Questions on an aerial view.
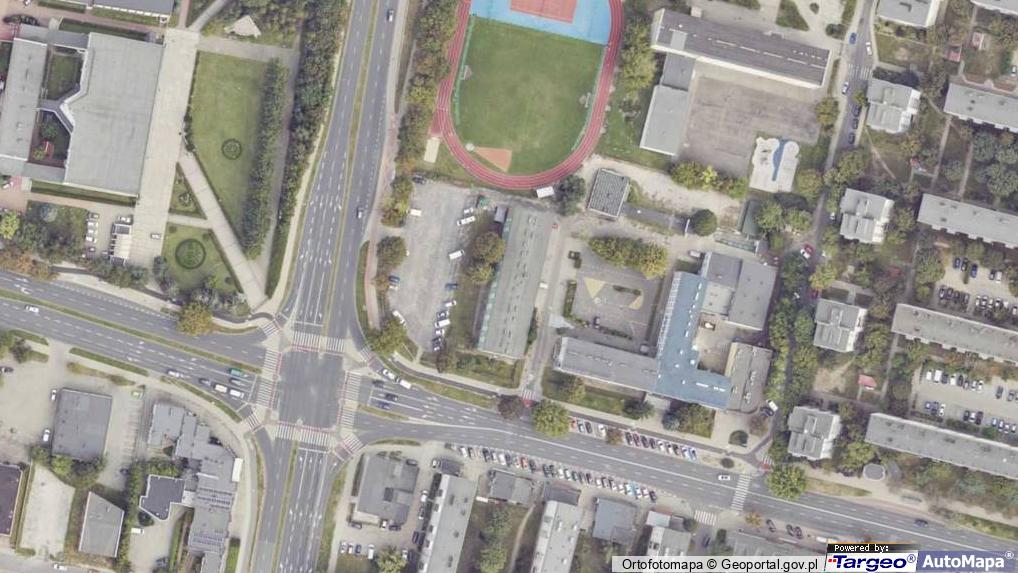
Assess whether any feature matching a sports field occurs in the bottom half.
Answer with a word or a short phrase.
No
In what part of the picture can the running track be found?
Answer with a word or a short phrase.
top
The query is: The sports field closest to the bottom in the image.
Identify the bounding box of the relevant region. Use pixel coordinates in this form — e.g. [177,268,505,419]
[451,13,607,180]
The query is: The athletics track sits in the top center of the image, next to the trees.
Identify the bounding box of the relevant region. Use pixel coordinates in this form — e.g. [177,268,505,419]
[428,0,624,193]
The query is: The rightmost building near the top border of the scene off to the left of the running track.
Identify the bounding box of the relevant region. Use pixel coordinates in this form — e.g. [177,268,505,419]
[226,15,260,37]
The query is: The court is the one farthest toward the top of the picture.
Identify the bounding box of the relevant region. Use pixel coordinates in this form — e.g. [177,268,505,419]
[469,0,610,44]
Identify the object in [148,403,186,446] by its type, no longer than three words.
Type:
building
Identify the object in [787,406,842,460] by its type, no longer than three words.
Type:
building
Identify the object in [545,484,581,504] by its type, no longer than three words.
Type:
shed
